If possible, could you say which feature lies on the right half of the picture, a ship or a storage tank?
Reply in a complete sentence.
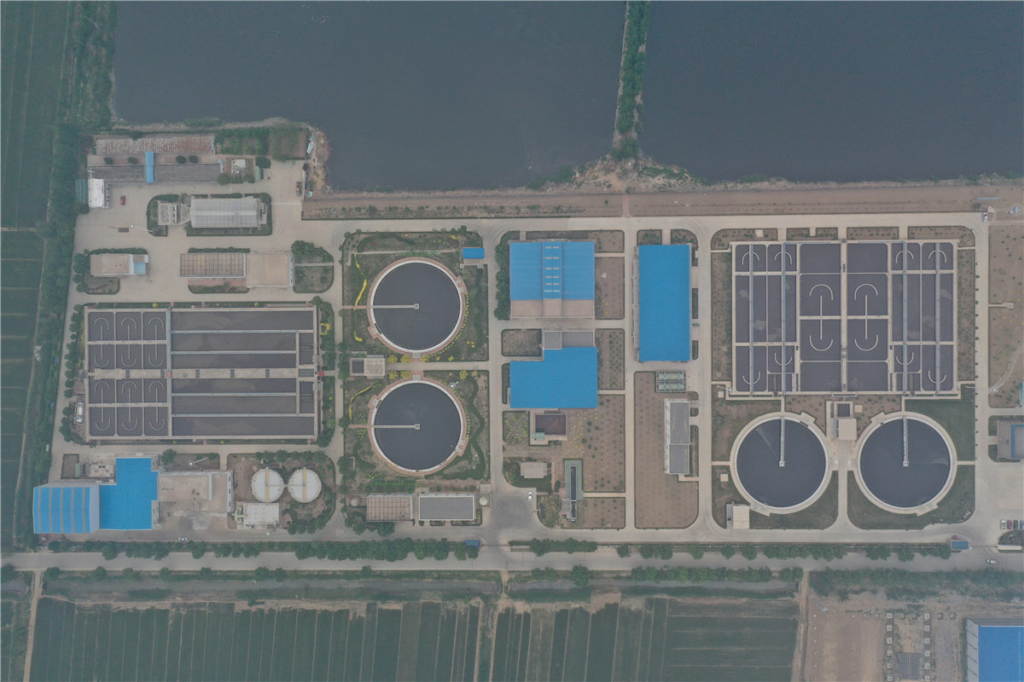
Looking on the right half of the picture, you will find a storage tank.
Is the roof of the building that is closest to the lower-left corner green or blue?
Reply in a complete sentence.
The color of the roof of the building that is closest to the lower-left corner is blue.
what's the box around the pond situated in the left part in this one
[114,0,625,190]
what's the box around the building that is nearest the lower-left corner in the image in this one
[31,483,103,533]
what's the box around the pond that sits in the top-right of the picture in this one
[641,0,1024,182]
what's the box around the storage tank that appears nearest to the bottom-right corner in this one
[853,411,957,516]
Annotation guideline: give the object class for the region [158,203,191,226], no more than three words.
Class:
house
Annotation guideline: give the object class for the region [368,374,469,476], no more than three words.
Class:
storage tank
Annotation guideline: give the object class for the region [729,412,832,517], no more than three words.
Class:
storage tank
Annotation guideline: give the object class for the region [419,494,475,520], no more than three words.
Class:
shed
